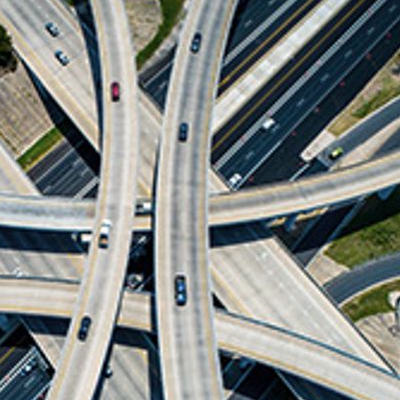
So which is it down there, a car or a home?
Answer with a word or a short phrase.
car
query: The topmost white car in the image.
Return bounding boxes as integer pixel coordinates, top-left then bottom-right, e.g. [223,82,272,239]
[261,117,276,132]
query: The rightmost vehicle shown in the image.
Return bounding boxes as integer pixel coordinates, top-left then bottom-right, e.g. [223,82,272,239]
[329,147,343,159]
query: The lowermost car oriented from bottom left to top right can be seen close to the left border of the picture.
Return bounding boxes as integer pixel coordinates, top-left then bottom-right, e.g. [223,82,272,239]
[18,358,37,377]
